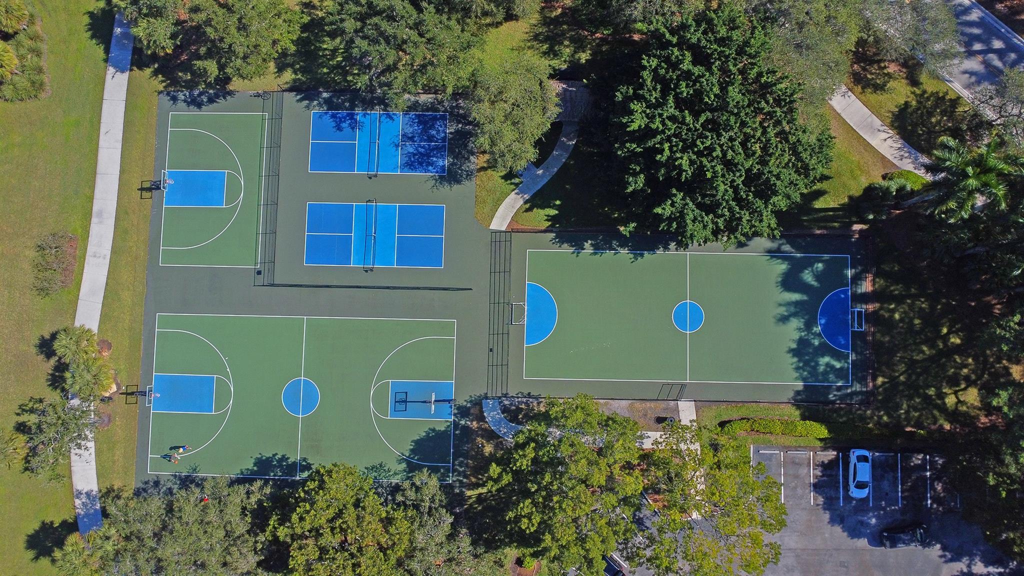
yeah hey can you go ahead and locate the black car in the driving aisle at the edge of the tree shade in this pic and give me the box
[875,523,930,549]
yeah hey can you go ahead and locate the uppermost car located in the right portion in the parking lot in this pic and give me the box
[846,448,873,499]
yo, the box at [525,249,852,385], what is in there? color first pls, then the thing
green sports court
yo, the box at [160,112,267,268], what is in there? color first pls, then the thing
green basketball court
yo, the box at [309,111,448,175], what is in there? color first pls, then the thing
blue sports court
